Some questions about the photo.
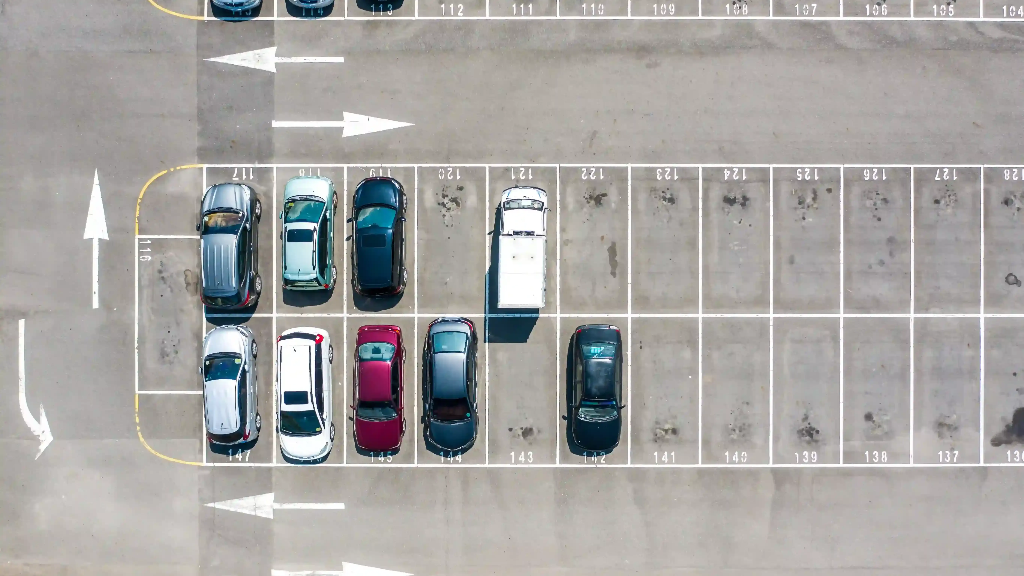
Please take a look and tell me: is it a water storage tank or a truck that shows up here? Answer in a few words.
truck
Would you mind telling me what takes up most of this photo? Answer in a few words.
paved ground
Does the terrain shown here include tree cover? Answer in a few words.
No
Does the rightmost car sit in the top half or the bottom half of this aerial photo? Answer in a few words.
bottom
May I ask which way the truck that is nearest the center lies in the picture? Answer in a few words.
vertically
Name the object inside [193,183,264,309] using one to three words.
car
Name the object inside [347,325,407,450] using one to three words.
car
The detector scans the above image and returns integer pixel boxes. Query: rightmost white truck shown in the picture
[492,186,553,310]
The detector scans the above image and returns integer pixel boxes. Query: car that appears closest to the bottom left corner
[196,325,263,444]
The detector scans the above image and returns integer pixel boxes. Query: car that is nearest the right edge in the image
[569,324,628,449]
